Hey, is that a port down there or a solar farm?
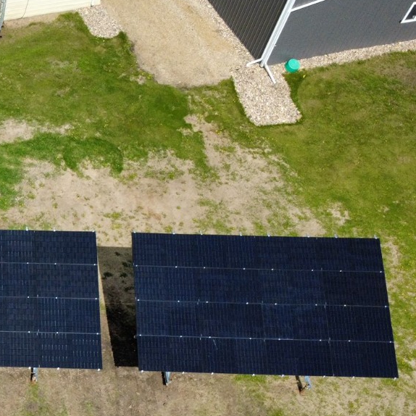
solar farm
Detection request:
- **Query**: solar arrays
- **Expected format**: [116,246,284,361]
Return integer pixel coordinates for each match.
[0,226,101,382]
[131,229,397,390]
